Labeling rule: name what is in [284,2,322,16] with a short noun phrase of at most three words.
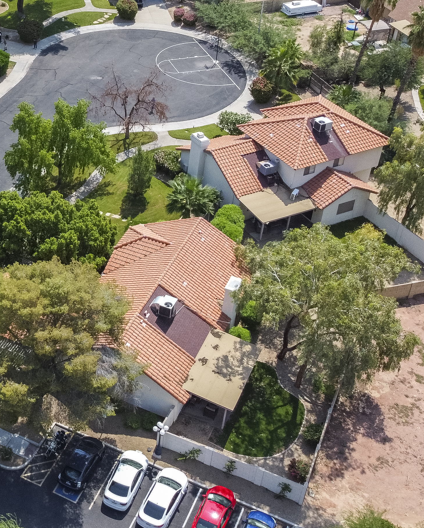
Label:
vehicle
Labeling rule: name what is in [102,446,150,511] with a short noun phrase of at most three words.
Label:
car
